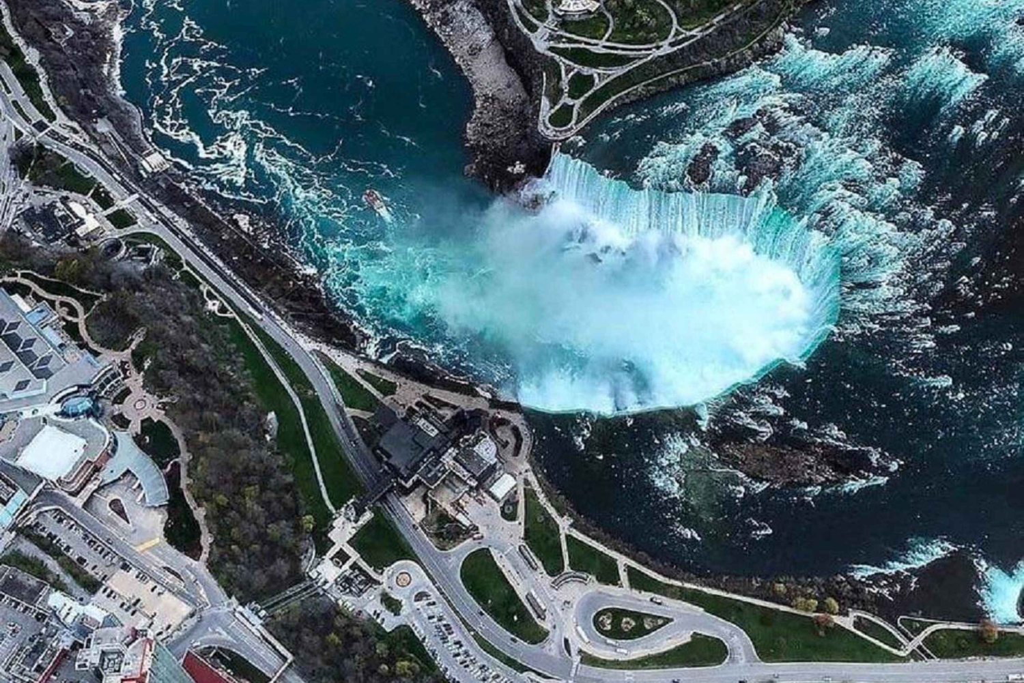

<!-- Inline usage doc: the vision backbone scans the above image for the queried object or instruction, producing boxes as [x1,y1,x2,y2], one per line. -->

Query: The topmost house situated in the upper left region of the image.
[144,152,174,170]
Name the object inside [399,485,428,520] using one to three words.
building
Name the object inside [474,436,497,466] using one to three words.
building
